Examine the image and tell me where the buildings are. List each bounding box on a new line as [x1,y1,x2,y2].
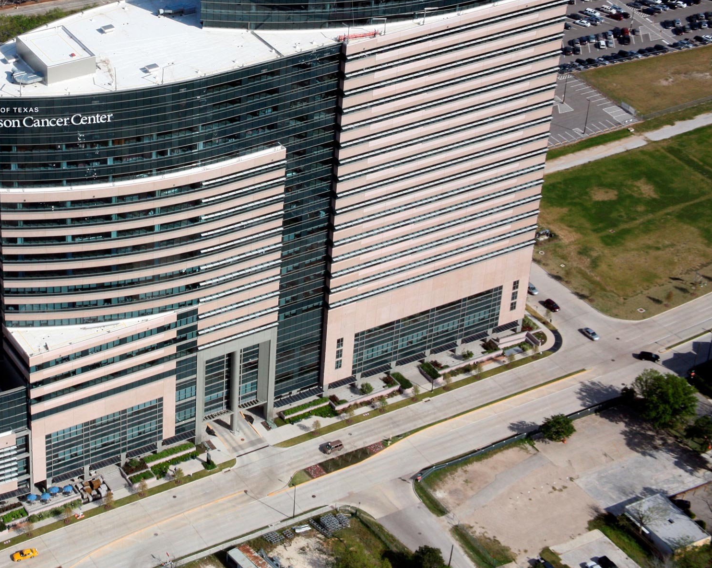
[227,545,274,568]
[0,0,569,488]
[624,494,712,566]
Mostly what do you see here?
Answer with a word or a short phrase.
buildings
